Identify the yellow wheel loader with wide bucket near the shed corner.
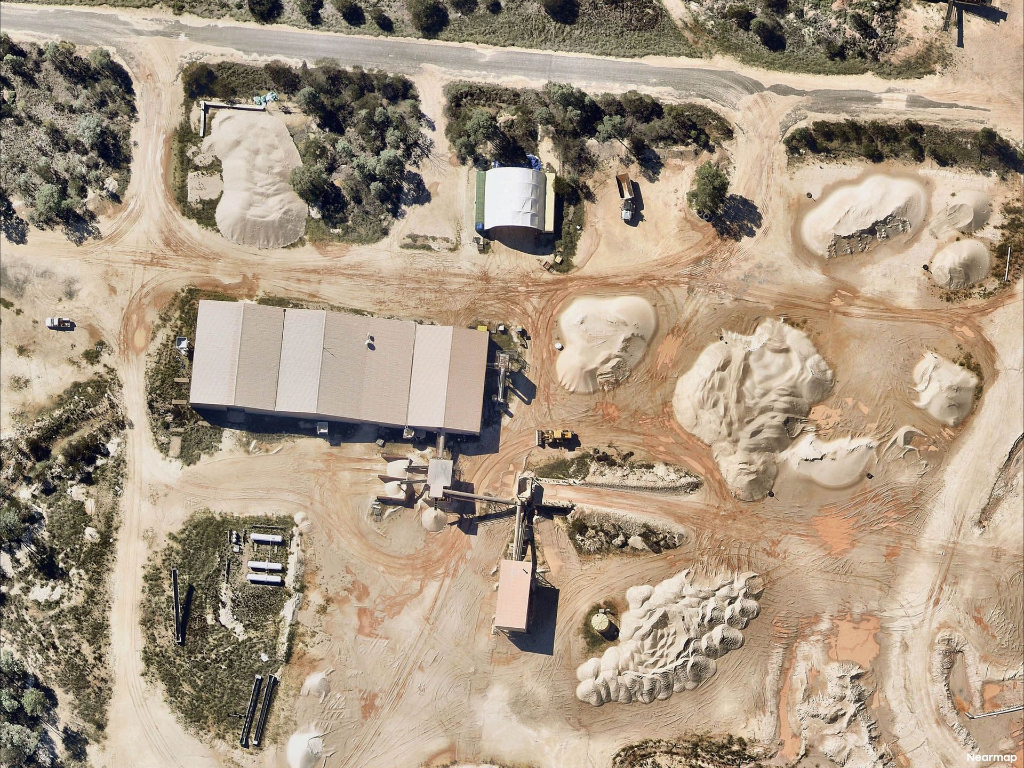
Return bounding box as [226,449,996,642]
[536,430,572,446]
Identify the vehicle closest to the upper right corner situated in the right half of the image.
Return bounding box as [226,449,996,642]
[616,170,638,222]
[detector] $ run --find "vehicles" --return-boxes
[616,170,638,222]
[536,430,572,446]
[46,318,70,328]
